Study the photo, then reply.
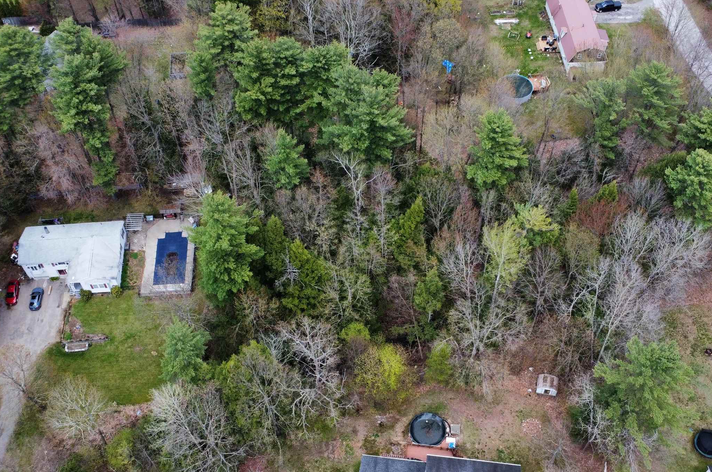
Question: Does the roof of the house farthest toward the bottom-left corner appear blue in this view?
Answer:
No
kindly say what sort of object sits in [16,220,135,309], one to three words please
house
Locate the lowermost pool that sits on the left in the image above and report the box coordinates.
[140,218,196,298]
